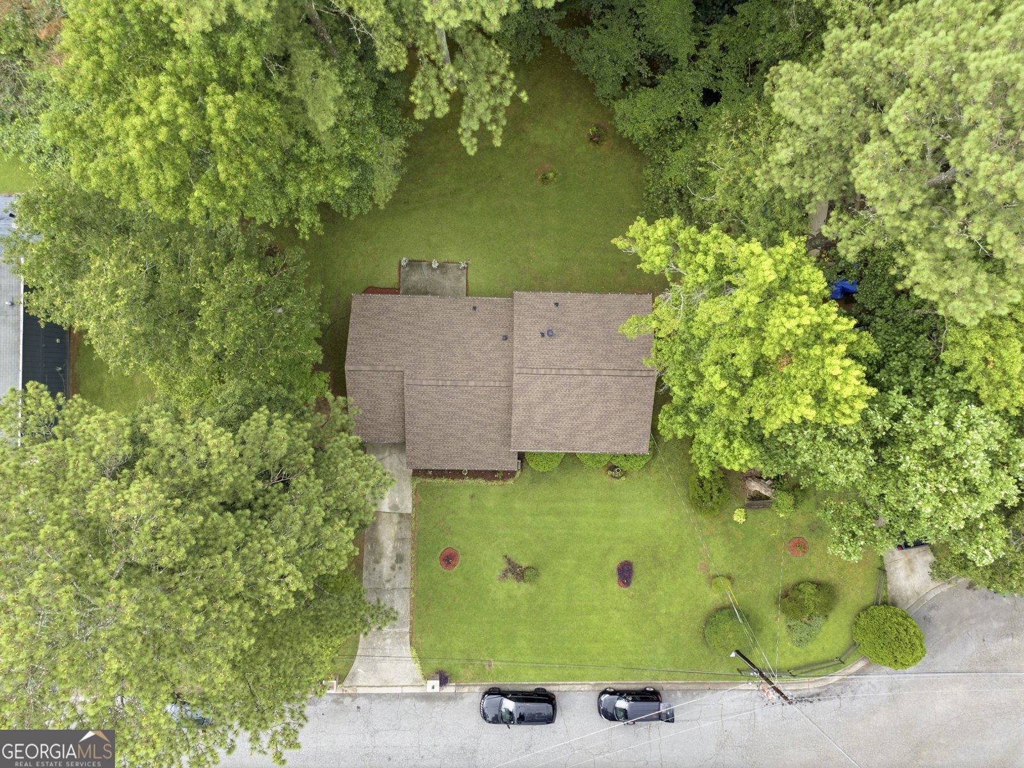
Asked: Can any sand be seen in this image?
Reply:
No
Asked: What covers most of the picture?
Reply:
trees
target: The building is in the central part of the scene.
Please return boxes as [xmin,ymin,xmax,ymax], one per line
[344,289,656,473]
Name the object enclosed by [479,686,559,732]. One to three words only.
car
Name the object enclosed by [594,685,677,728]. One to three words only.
car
